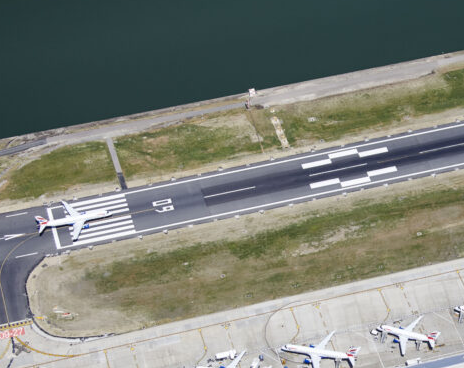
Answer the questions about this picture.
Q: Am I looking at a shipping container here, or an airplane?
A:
airplane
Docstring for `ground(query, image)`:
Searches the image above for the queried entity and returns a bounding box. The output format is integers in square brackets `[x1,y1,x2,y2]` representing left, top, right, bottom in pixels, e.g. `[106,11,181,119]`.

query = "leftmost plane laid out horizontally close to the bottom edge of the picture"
[279,330,361,368]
